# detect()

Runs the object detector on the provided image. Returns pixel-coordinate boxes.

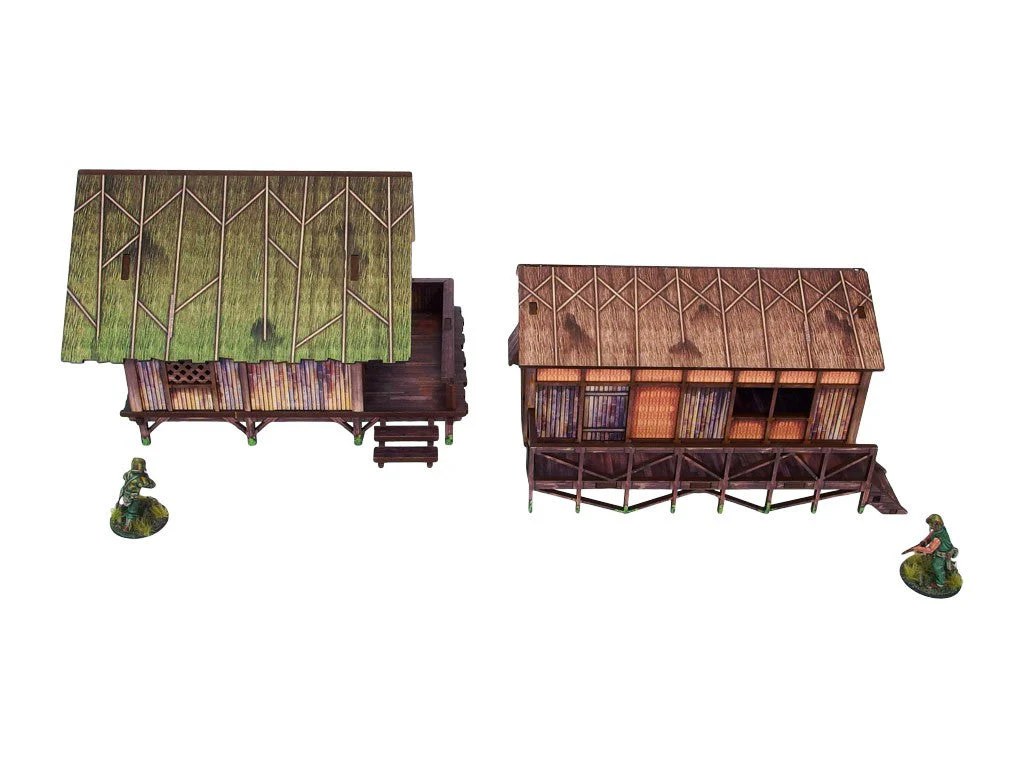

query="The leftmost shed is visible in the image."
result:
[59,170,469,467]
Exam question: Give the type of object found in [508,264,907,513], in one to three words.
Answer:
shed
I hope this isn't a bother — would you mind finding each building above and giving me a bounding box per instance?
[59,170,469,467]
[508,264,907,513]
